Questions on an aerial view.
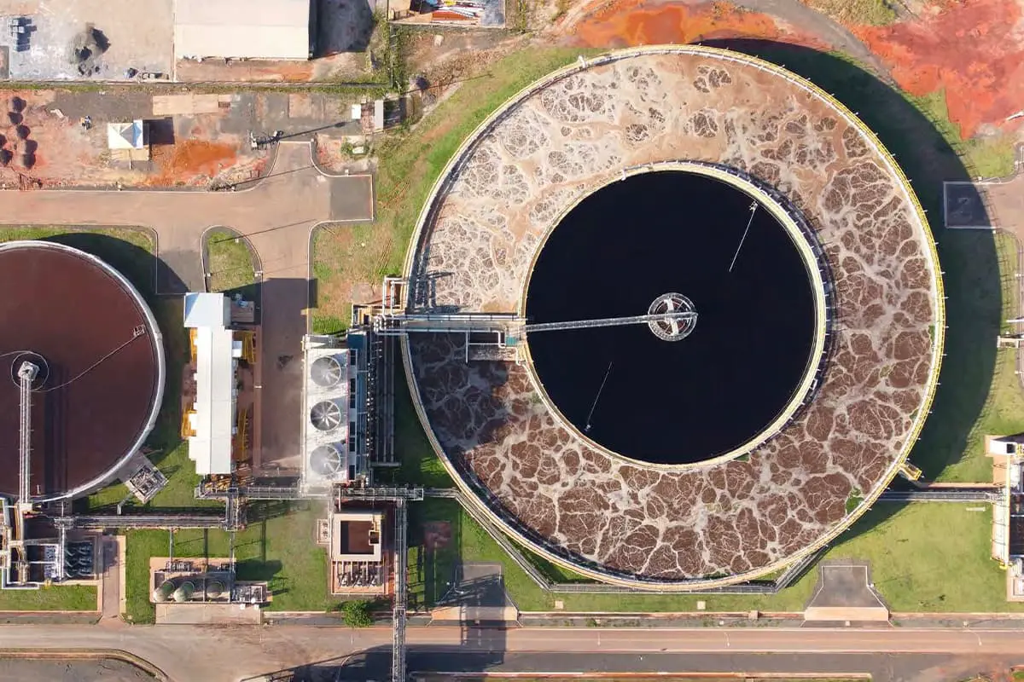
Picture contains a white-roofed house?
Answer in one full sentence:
Yes, the image includes a white-roofed house.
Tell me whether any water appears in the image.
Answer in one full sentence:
Yes, water shows up in the scene.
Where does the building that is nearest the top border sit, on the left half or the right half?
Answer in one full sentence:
It is on the left.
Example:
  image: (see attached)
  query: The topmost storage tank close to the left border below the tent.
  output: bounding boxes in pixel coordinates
[0,238,164,508]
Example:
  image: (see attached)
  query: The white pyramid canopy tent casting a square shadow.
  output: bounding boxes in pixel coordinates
[108,120,149,152]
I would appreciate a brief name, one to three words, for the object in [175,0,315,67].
building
